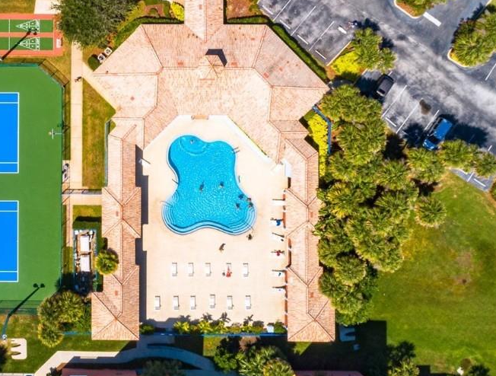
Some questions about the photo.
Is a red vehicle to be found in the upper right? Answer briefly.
No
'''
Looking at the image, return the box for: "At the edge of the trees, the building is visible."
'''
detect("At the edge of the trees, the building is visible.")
[90,0,336,343]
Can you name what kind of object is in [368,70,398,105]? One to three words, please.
car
